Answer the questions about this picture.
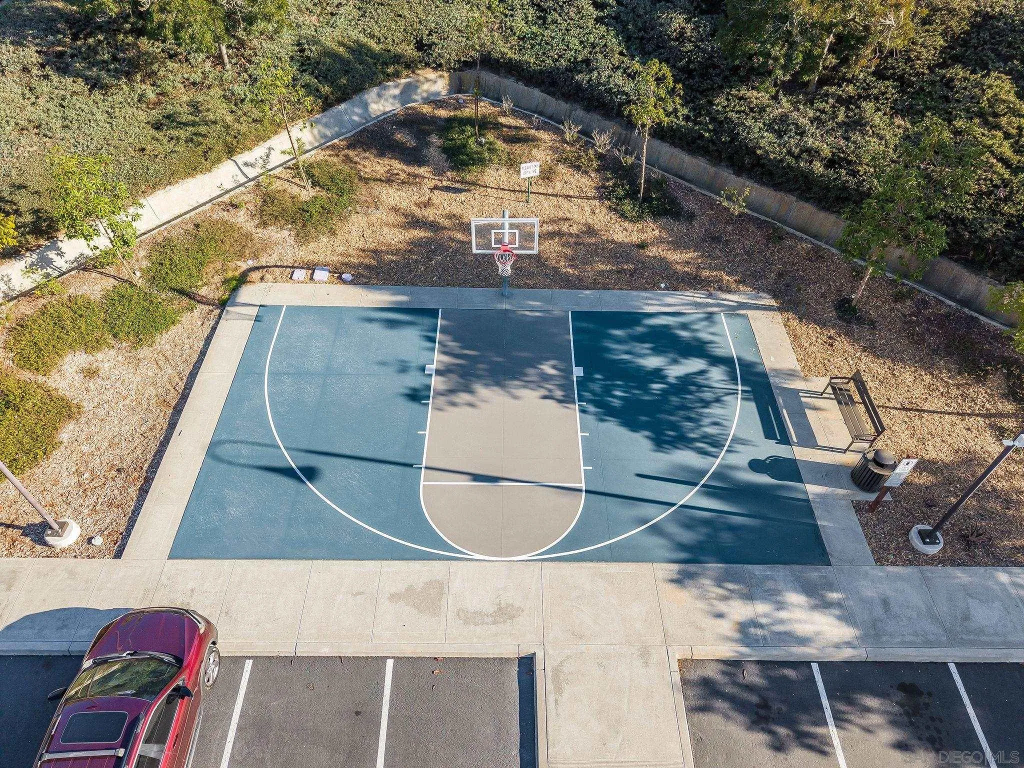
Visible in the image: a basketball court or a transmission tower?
basketball court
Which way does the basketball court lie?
from side to side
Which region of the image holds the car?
bottom left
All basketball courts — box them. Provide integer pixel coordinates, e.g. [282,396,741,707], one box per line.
[169,306,830,566]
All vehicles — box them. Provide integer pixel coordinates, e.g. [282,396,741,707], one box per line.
[36,605,219,768]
